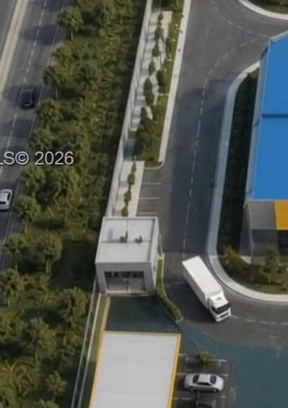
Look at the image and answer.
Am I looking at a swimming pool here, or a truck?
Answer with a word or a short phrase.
truck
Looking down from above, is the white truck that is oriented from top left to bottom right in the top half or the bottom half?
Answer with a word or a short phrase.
bottom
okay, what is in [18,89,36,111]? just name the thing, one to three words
car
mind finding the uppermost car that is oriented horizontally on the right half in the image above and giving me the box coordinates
[183,375,223,393]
